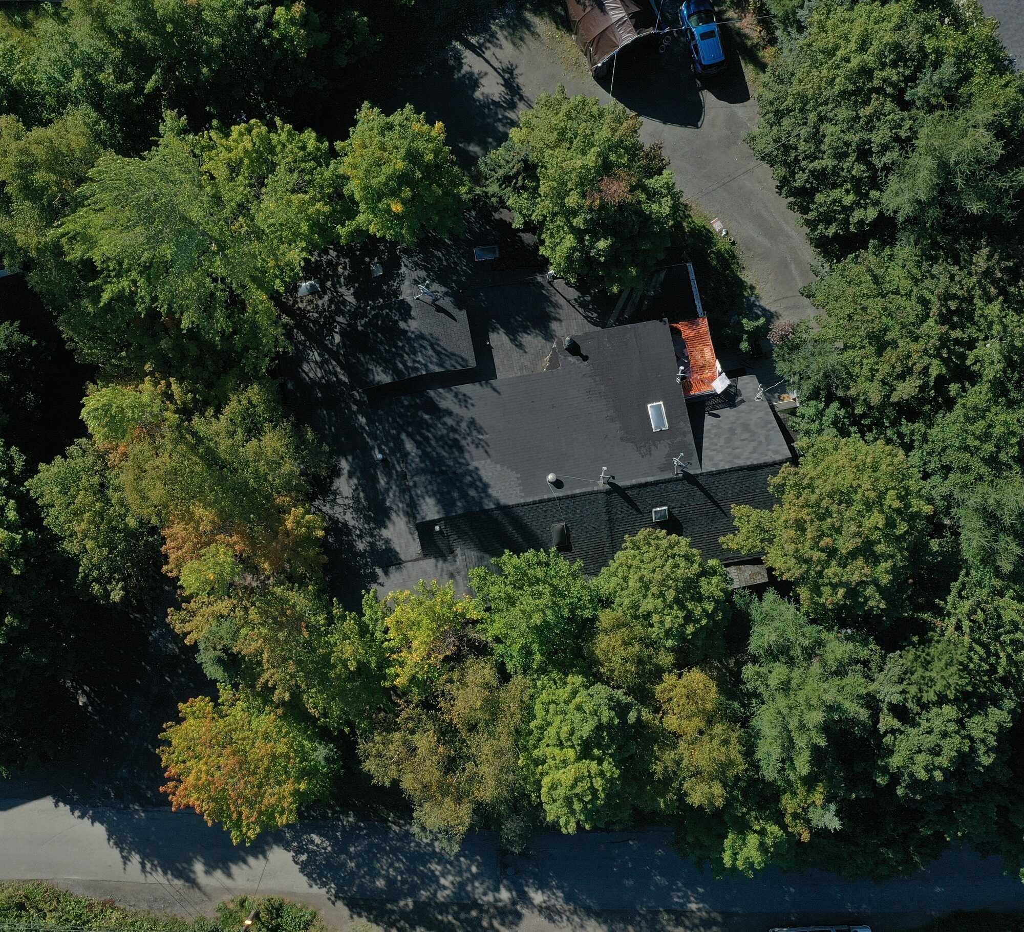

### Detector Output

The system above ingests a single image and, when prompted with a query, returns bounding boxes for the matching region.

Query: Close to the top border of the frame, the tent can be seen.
[567,0,688,82]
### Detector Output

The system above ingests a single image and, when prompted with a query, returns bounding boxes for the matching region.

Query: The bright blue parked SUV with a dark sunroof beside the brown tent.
[678,2,726,86]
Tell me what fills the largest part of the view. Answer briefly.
trees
